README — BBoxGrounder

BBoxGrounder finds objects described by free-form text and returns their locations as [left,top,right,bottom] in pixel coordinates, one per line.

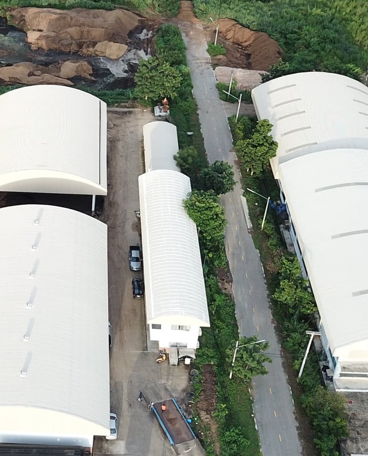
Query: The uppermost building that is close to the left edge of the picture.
[0,80,108,214]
